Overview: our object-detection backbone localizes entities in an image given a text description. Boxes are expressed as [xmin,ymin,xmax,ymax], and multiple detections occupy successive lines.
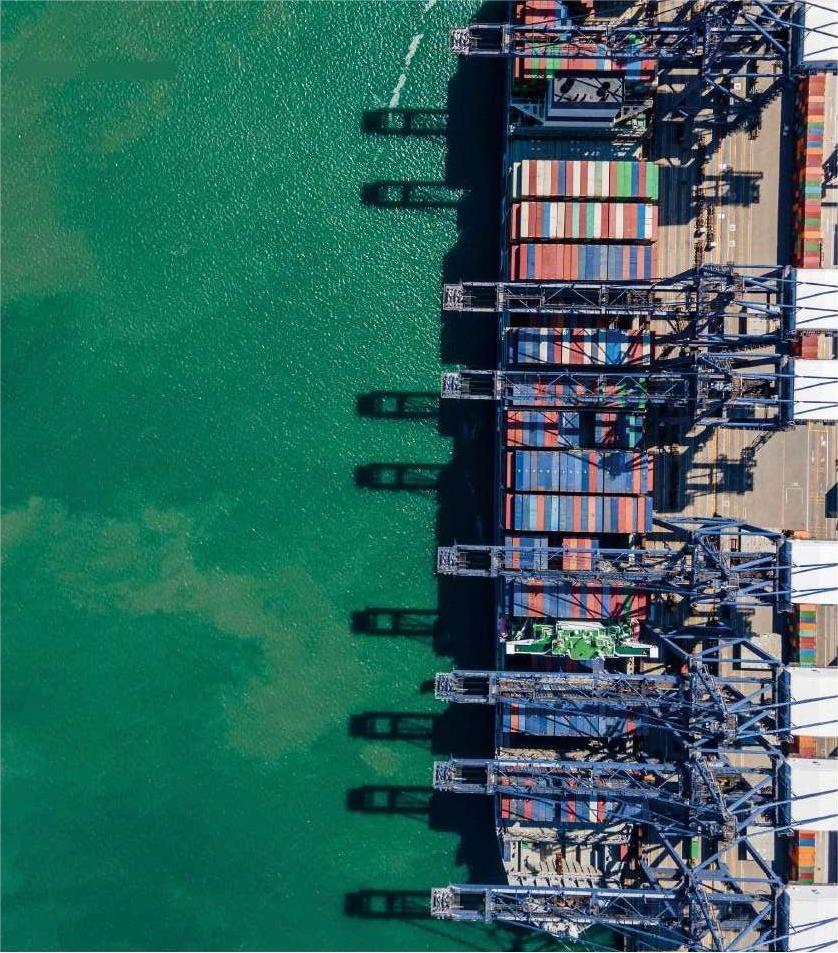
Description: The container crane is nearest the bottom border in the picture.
[430,808,838,953]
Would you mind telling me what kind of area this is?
port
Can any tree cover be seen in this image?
No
